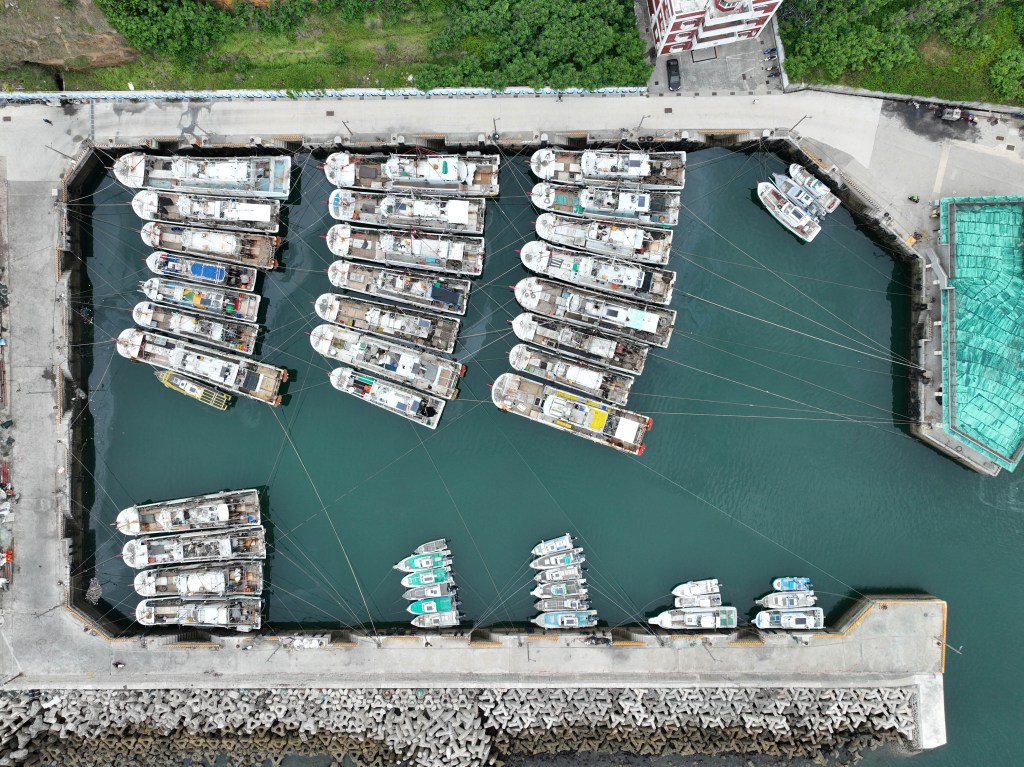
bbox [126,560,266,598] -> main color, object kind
white boat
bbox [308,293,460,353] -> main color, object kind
white boat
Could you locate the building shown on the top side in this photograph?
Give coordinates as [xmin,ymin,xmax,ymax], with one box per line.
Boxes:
[647,0,785,58]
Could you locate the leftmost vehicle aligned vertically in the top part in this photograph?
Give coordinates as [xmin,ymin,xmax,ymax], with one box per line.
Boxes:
[666,56,683,89]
